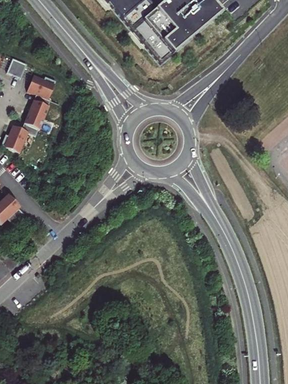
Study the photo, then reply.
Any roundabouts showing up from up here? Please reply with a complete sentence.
Yes, there's a roundabout down there.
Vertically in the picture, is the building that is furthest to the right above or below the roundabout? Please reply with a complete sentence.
You can see the building that is furthest to the right above the roundabout in the frame.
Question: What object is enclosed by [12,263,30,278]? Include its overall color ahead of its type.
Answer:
white vehicle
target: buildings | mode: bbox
[0,193,20,226]
[6,58,24,80]
[97,0,224,64]
[4,124,28,154]
[27,75,54,100]
[24,99,49,128]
